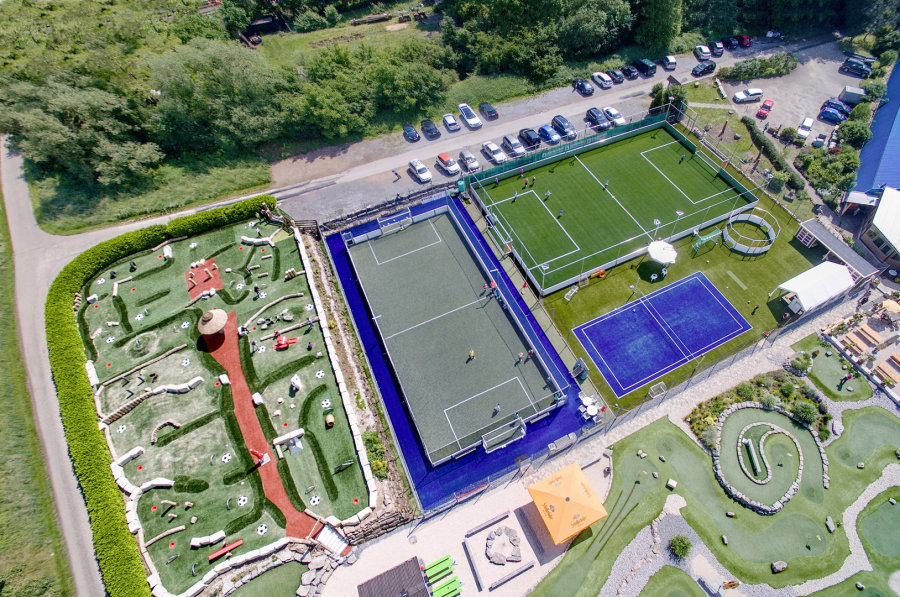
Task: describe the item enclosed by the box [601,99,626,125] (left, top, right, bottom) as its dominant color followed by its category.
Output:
white car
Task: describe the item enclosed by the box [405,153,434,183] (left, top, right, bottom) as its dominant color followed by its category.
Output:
white car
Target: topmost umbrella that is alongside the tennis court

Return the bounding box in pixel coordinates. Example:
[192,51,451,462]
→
[642,238,682,270]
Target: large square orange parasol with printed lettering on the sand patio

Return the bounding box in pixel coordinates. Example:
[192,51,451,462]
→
[528,462,607,545]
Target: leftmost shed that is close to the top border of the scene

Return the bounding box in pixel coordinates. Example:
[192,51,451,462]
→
[250,14,277,37]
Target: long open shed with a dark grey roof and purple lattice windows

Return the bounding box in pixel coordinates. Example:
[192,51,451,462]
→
[792,218,880,290]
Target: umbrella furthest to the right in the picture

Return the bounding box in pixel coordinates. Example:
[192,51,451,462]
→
[877,300,900,321]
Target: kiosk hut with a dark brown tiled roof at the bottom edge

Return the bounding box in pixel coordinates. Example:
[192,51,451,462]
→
[358,557,431,597]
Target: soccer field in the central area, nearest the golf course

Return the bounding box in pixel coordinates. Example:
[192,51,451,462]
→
[325,192,579,516]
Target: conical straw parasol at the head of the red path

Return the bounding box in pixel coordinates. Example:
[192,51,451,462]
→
[199,310,230,337]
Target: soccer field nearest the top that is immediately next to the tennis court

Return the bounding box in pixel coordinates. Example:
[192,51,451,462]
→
[476,105,771,295]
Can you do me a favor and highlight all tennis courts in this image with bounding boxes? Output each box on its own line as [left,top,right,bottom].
[572,271,753,398]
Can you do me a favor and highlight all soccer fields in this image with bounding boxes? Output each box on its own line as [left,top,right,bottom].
[476,105,771,295]
[325,192,579,516]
